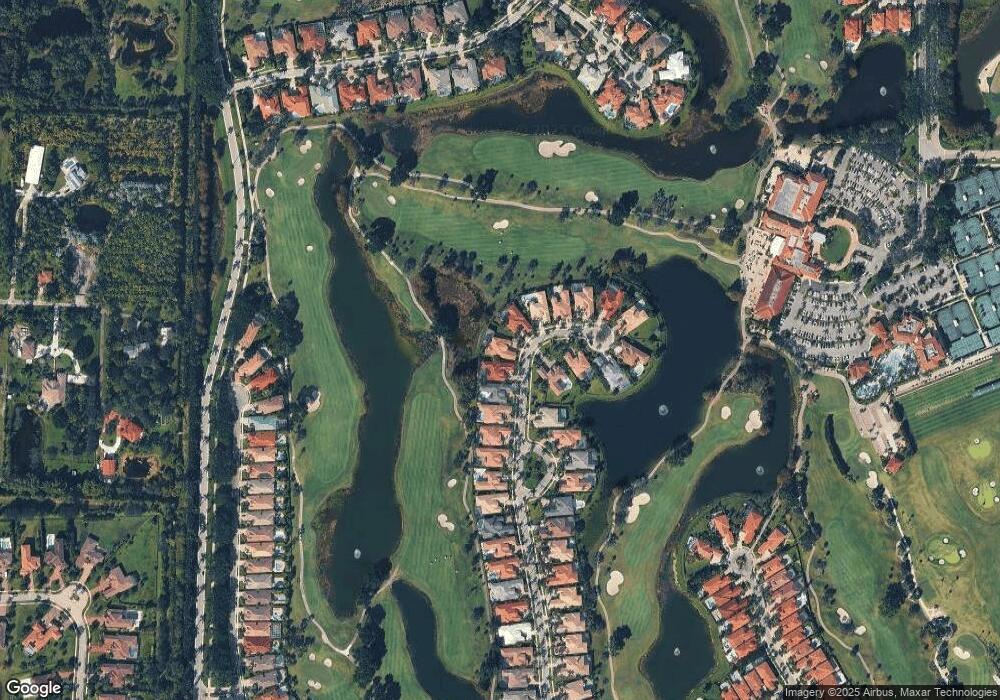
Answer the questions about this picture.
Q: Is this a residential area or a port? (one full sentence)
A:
What you see here is a residential area.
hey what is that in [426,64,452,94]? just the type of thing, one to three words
house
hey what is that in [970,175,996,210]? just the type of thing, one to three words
tennis court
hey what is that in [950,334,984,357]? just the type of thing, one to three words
tennis court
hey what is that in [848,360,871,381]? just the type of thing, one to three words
building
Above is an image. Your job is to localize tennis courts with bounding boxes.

[964,218,986,251]
[960,259,982,292]
[954,181,980,216]
[973,294,996,328]
[985,250,1000,283]
[951,223,974,255]
[950,334,984,357]
[970,175,996,210]
[938,308,962,340]
[986,289,1000,323]
[952,303,975,335]
[985,169,1000,205]
[973,255,995,288]
[984,211,1000,244]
